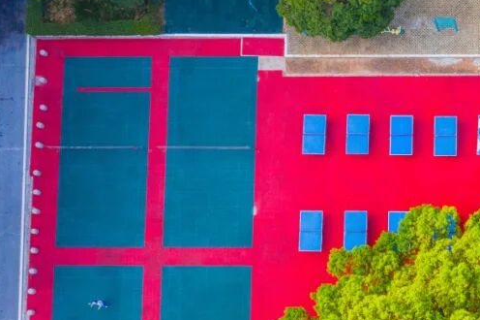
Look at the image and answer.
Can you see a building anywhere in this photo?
No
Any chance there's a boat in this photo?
No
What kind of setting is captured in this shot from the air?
sports ground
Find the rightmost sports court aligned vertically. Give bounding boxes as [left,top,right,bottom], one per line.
[163,57,256,247]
